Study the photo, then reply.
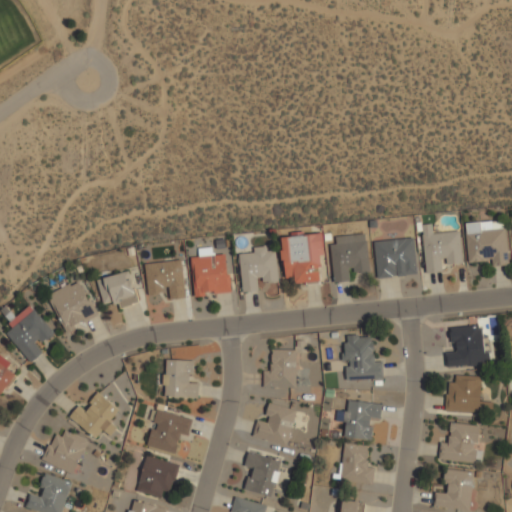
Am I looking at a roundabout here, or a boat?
roundabout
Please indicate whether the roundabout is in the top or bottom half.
top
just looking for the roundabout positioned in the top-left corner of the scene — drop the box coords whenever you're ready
[58,50,118,110]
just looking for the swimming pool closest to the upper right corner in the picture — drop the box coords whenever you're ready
[440,216,460,230]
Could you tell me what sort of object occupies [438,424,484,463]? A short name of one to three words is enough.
house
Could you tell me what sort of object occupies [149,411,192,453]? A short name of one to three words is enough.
house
